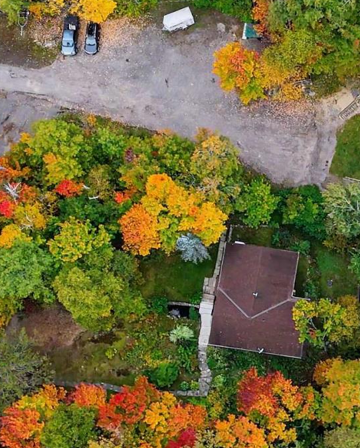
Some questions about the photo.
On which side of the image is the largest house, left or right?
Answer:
right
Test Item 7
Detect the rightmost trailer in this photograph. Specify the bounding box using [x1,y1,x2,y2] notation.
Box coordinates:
[161,5,197,34]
